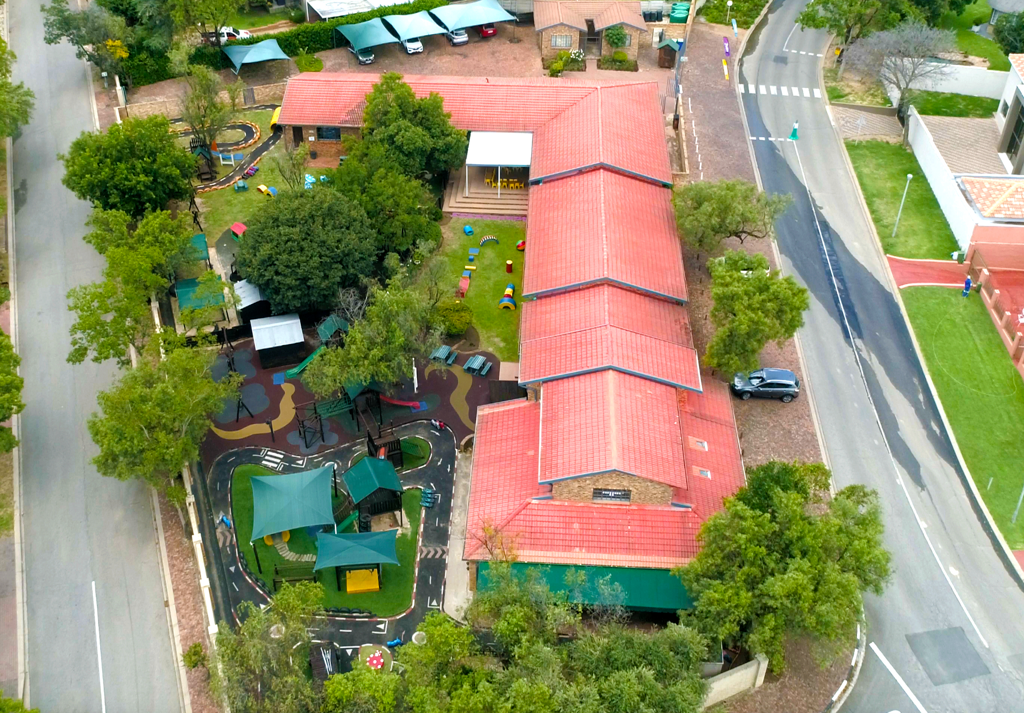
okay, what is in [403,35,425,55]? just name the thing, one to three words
car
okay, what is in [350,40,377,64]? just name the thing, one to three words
car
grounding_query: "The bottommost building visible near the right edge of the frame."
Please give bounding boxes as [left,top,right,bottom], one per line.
[953,176,1024,259]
